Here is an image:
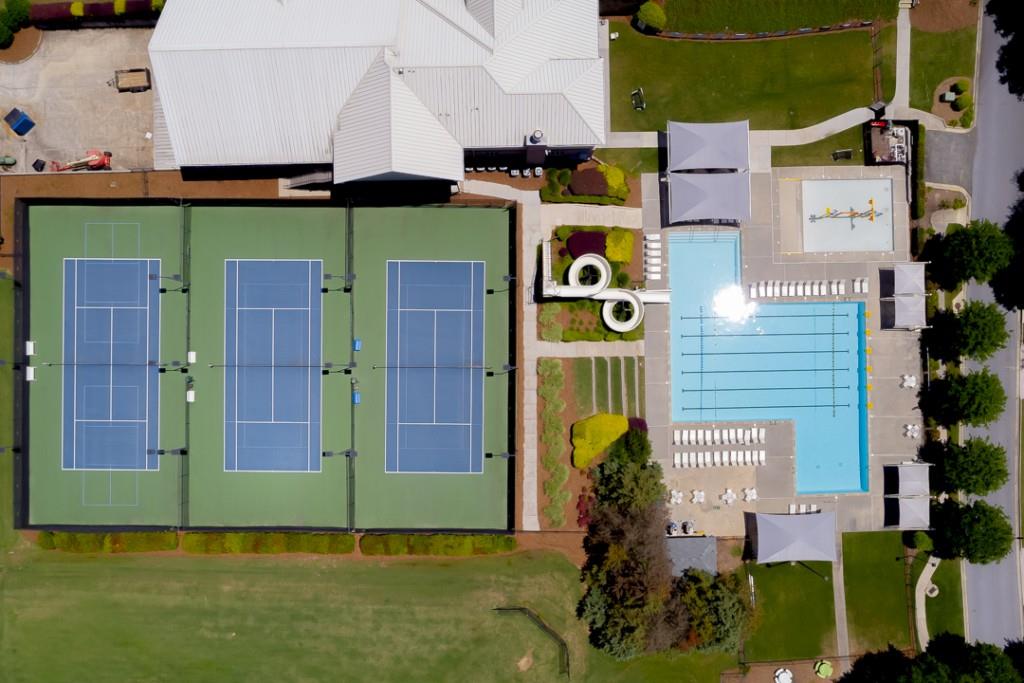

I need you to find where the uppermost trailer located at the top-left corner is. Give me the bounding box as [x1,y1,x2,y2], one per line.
[106,66,149,92]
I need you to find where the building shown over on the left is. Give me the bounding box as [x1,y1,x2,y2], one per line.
[148,0,605,184]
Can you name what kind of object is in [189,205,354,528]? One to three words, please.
tennis court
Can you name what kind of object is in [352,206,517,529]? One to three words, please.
tennis court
